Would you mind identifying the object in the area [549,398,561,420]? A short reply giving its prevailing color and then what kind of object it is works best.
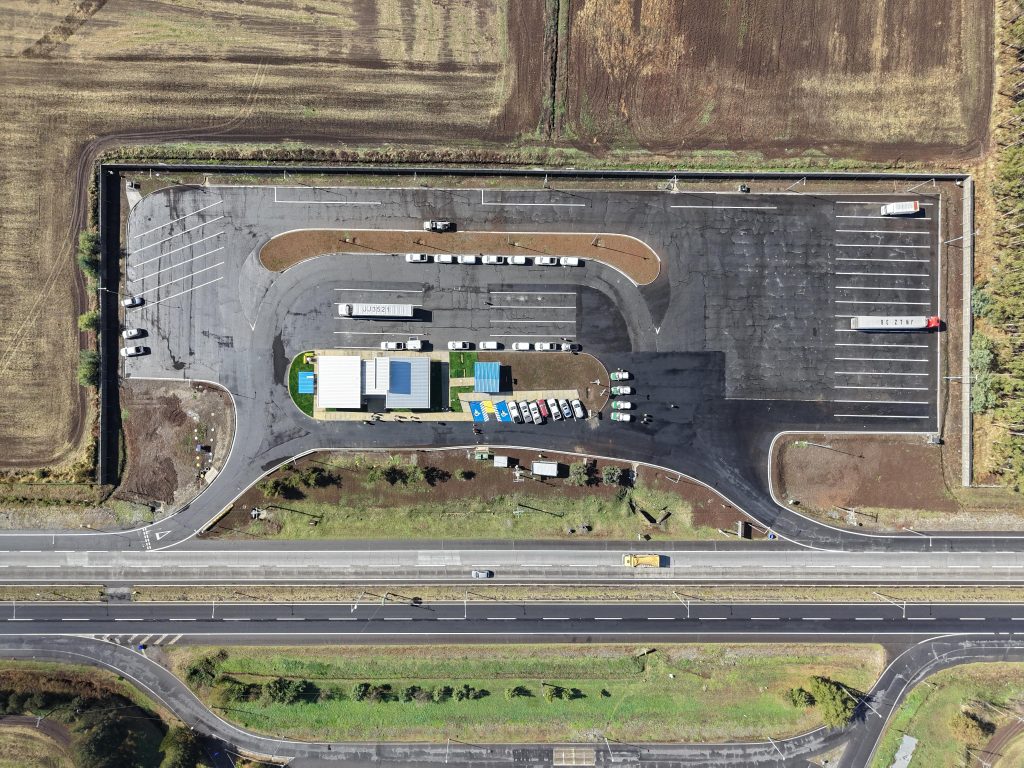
white vehicle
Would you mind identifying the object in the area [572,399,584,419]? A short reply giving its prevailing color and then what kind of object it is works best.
white vehicle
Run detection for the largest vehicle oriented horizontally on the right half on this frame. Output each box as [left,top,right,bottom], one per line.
[851,316,938,329]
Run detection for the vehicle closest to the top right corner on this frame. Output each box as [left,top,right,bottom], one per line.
[881,201,919,217]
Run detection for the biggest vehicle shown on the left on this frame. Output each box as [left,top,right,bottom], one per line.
[340,304,413,317]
